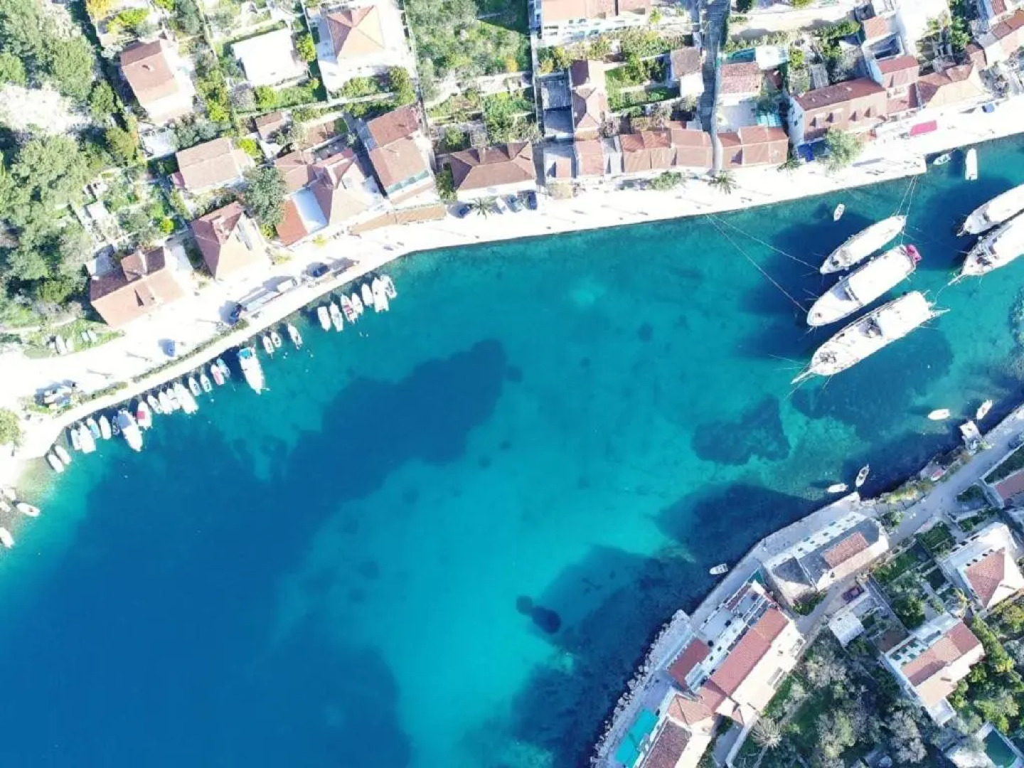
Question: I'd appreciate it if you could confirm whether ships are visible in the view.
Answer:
Yes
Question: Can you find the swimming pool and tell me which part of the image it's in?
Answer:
bottom right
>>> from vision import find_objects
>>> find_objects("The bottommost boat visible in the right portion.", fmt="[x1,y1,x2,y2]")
[709,562,727,574]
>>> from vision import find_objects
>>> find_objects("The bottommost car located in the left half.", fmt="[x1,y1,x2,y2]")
[164,338,176,357]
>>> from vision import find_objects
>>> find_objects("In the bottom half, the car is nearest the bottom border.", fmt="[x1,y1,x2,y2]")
[843,584,863,602]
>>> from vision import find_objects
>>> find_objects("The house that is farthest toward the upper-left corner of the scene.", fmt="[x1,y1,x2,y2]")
[120,40,195,128]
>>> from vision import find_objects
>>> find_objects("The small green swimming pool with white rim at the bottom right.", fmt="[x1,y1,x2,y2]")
[978,722,1022,768]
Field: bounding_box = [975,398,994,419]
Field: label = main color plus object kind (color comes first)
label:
white boat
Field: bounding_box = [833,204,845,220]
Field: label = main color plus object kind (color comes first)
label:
white boat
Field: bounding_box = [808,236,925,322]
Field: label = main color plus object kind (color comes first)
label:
white ship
